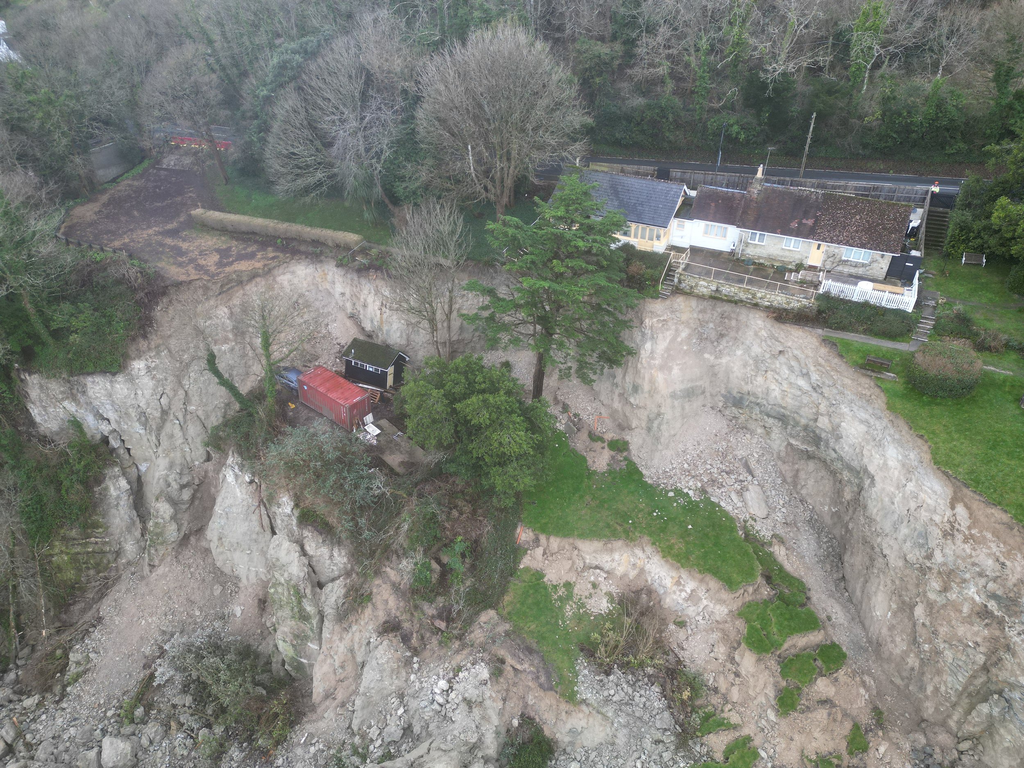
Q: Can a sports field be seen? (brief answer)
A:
No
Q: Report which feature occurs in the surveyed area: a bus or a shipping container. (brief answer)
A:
shipping container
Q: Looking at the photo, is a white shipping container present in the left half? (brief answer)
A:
No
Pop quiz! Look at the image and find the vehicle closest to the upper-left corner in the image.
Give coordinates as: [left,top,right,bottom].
[281,373,299,393]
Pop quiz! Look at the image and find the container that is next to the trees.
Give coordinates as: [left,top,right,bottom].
[295,365,368,429]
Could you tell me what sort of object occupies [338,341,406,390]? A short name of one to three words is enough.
shed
